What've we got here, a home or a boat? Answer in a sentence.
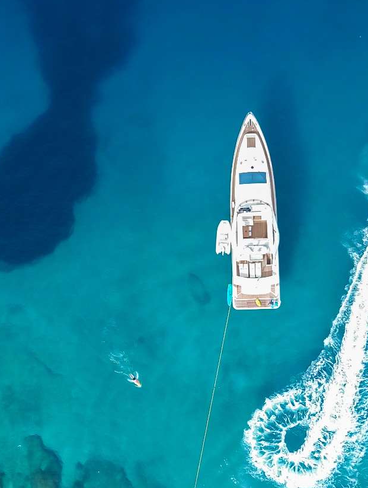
Looking from above, you can make out a boat.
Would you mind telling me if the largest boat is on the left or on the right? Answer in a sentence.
The largest boat is on the right side of the image.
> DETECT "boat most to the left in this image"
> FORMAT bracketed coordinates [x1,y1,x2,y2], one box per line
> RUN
[216,220,231,256]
